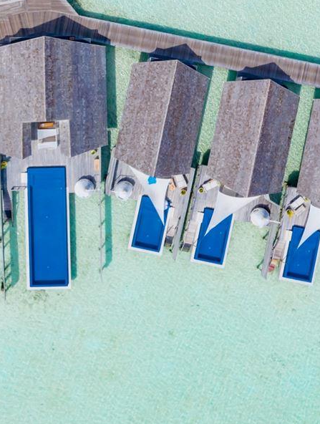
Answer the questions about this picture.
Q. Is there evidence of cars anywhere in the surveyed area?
No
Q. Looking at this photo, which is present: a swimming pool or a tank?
swimming pool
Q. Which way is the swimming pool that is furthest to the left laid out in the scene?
from top to bottom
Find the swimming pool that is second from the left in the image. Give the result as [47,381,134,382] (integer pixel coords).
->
[130,195,178,255]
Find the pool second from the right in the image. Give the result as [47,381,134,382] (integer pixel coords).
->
[189,208,234,268]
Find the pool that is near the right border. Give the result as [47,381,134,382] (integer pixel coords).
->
[275,225,320,285]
